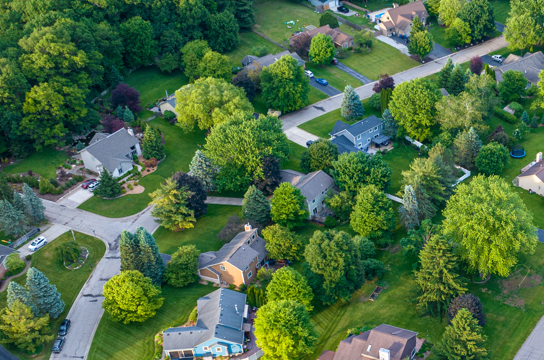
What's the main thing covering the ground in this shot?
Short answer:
trees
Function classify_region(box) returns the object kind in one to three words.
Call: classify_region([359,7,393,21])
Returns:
swimming pool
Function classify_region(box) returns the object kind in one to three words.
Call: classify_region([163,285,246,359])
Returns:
house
